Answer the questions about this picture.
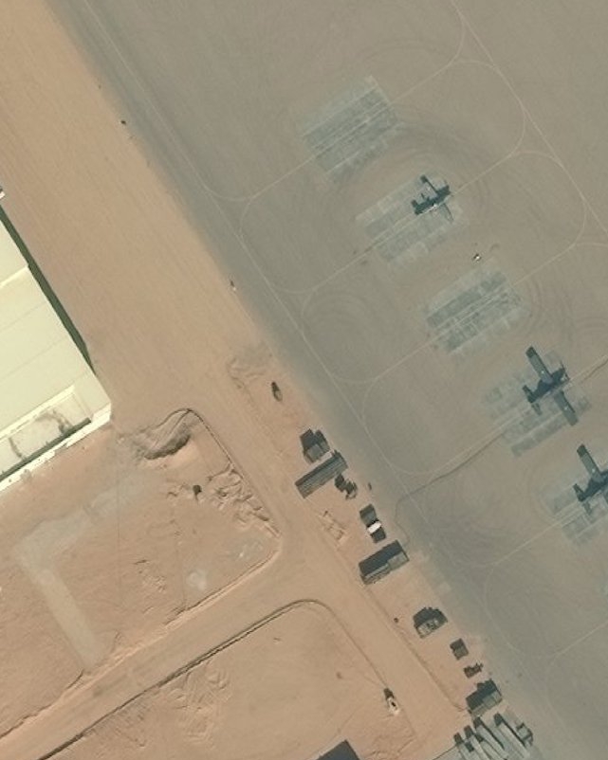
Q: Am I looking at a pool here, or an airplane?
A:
airplane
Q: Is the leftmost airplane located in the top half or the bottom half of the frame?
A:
top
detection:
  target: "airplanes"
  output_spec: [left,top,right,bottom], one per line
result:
[574,454,608,513]
[524,356,577,423]
[410,182,453,229]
